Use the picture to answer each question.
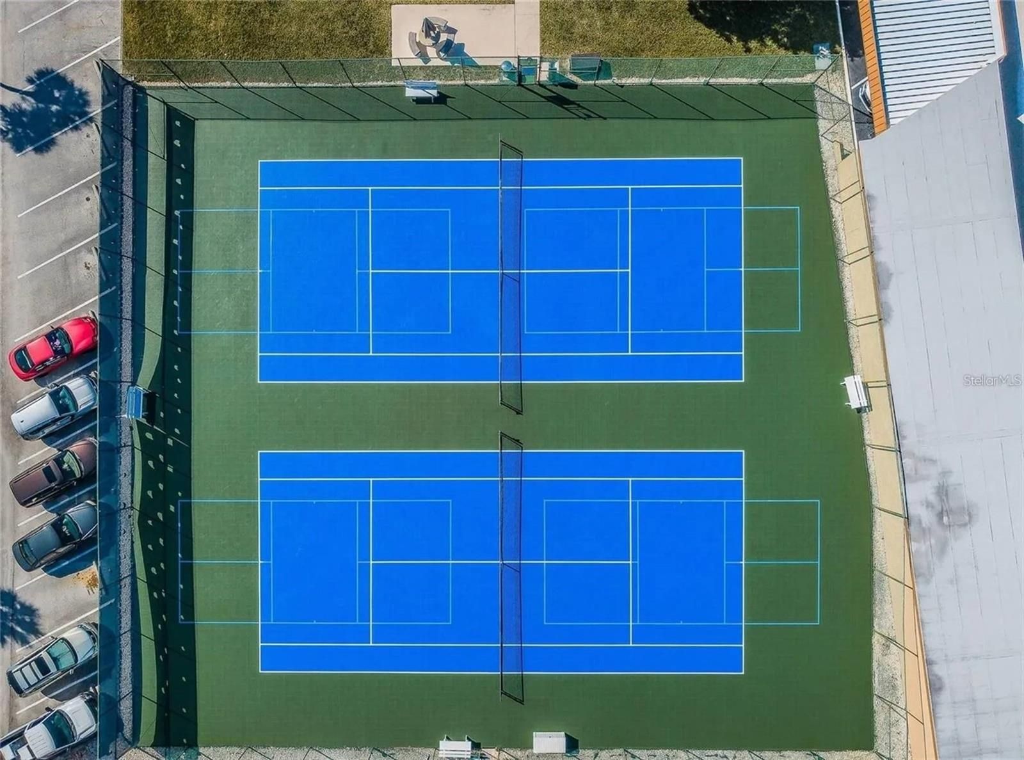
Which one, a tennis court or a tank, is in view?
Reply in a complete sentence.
Of the two, only a tennis court appears.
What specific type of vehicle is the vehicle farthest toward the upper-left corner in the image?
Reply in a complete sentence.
Looking closely, the vehicle farthest toward the upper-left corner is an automobile.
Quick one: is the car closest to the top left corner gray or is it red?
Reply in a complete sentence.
From above, the car closest to the top left corner appears red.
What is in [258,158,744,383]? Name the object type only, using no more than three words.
tennis court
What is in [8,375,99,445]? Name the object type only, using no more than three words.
car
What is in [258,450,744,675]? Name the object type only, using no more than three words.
tennis court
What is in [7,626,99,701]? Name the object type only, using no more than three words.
car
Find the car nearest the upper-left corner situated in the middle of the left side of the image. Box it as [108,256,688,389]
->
[8,315,99,381]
